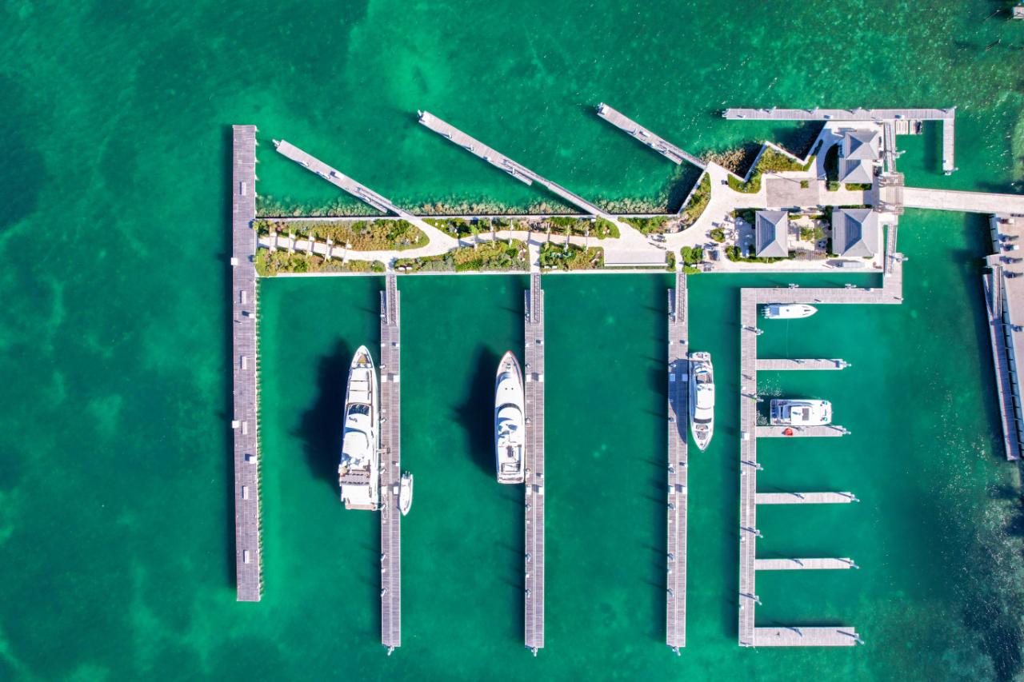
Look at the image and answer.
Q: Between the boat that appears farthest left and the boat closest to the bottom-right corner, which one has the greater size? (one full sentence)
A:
The boat closest to the bottom-right corner is smaller than the boat that appears farthest left.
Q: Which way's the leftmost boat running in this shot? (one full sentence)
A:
The leftmost boat runs up and down in the image.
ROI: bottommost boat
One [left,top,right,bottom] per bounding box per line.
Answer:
[399,472,413,517]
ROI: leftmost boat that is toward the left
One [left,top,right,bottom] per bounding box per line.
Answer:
[338,345,385,508]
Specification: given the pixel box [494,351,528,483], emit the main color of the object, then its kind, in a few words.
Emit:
white boat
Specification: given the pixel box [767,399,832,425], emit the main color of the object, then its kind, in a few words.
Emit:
white boat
